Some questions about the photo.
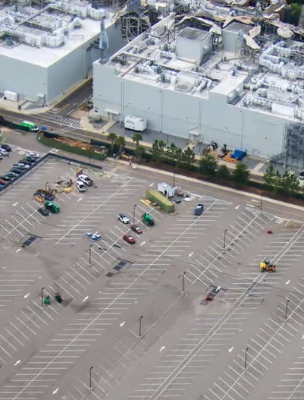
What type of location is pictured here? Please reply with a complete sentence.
The picture captures a parking lot.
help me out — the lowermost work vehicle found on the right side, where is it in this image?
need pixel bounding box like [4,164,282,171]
[259,257,278,273]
